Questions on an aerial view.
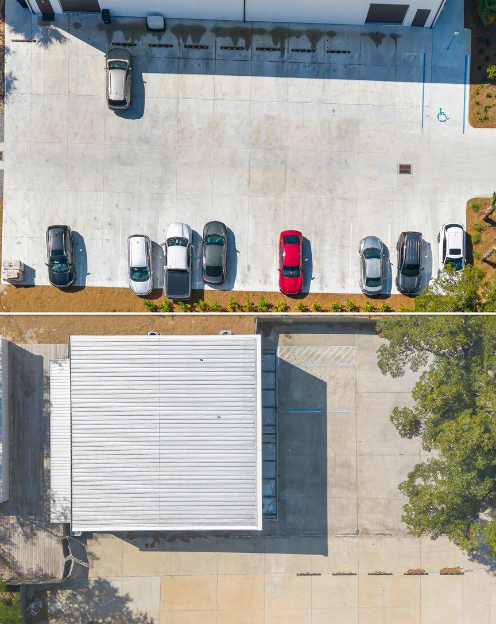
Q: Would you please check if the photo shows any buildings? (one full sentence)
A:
Yes, a building can be made out from above.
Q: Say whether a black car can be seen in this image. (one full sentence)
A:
Yes, you can see a black car in this photo.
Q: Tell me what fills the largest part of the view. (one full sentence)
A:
The largest share of the image is taken up by paved ground.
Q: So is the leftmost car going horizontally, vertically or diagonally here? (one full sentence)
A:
What the image shows is the leftmost car lying vertically.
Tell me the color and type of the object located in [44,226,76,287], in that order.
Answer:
black car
